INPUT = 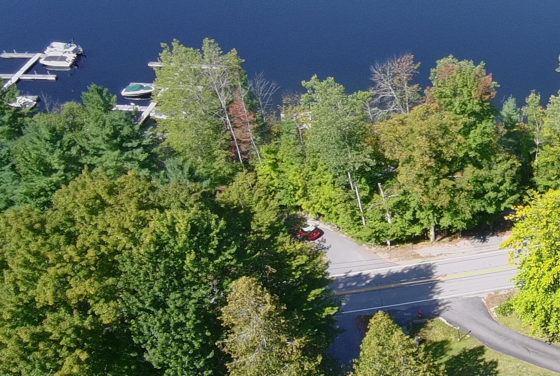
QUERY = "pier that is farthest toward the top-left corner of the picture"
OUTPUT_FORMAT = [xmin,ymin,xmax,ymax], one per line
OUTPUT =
[0,45,59,85]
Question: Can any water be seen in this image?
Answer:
Yes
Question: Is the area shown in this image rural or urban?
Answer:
rural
